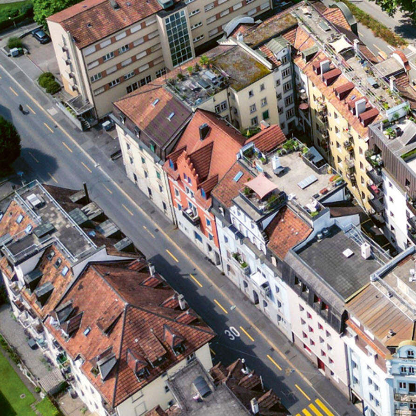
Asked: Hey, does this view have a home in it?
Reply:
Yes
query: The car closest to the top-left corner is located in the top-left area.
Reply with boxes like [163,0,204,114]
[29,23,51,41]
